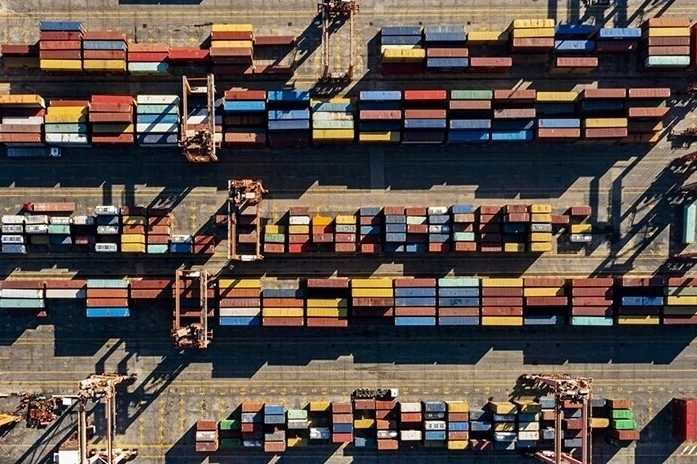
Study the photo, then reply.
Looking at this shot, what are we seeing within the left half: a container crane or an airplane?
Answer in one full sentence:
Looking within the left half, you will find a container crane.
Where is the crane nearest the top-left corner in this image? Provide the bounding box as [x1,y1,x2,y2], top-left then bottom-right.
[174,73,233,174]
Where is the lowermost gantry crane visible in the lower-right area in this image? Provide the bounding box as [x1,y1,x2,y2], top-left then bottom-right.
[525,373,596,464]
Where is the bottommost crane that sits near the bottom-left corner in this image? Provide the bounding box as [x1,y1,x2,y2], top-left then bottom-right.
[73,374,143,464]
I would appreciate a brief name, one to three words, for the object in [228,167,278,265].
container crane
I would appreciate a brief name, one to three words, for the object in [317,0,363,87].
container crane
